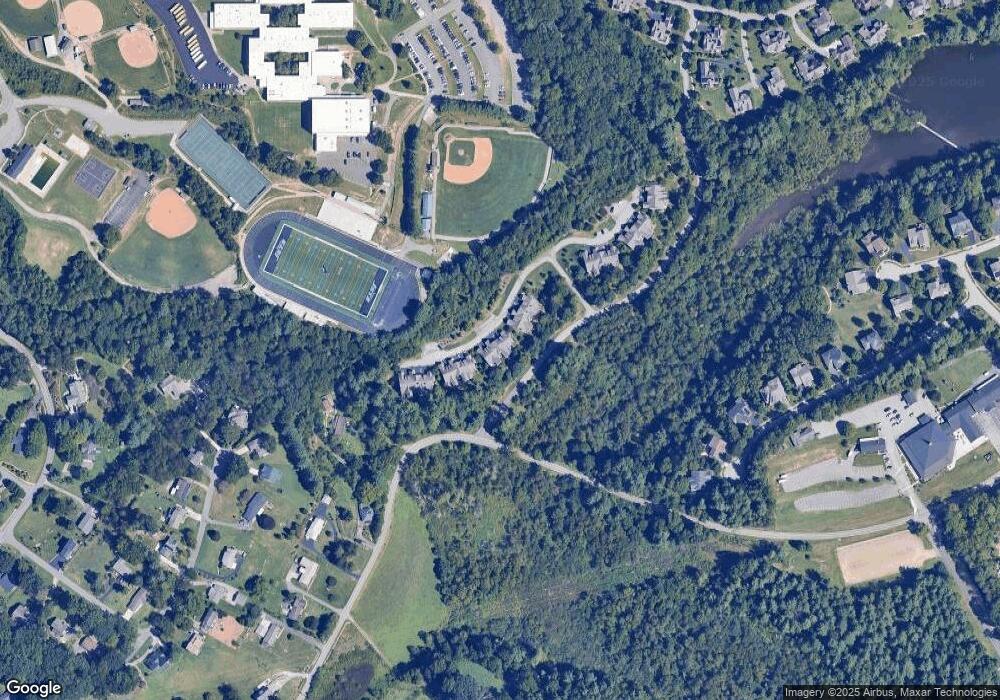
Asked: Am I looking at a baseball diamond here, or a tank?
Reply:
baseball diamond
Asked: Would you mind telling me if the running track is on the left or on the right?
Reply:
left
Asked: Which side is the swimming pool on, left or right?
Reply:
left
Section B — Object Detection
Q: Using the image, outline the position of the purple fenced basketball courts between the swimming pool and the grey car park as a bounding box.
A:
[72,154,118,200]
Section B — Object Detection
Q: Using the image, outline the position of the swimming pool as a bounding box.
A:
[16,144,67,197]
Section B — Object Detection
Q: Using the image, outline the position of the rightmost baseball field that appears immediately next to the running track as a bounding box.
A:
[436,128,549,243]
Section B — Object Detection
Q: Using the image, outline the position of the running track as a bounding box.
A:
[244,211,422,333]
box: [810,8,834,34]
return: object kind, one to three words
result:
house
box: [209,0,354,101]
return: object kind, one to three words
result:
building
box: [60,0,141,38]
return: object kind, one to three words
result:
baseball field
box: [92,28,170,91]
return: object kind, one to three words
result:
baseball field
